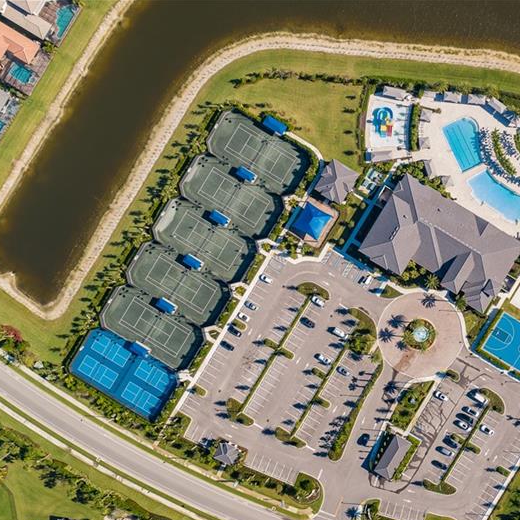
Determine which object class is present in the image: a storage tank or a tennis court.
tennis court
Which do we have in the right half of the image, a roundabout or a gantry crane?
roundabout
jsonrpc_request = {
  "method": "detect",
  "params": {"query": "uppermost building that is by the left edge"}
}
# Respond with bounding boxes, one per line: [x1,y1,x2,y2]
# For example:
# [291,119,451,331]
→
[0,0,53,40]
